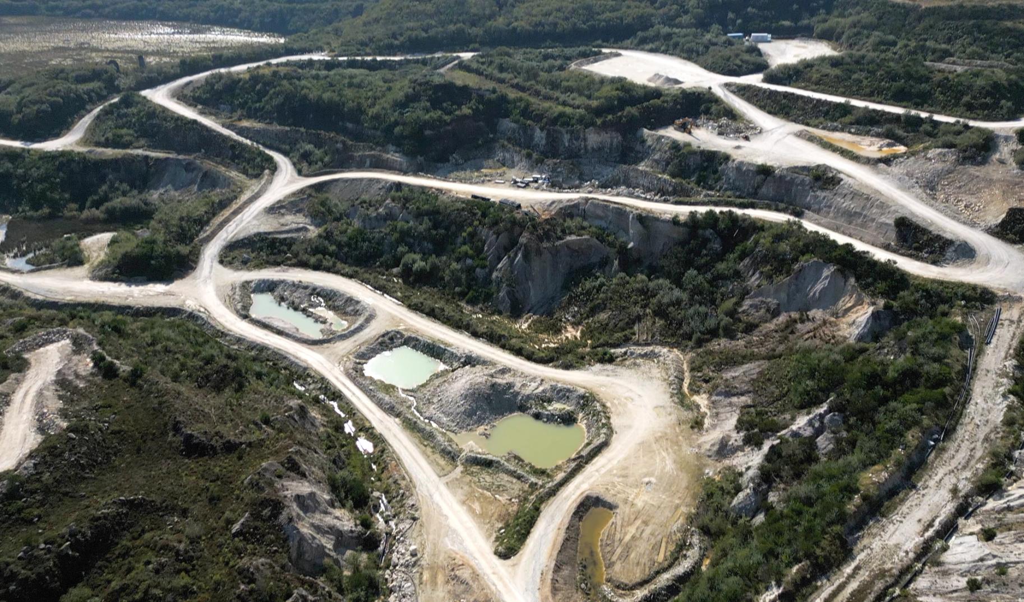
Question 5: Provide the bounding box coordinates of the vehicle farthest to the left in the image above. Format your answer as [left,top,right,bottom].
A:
[675,121,697,134]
